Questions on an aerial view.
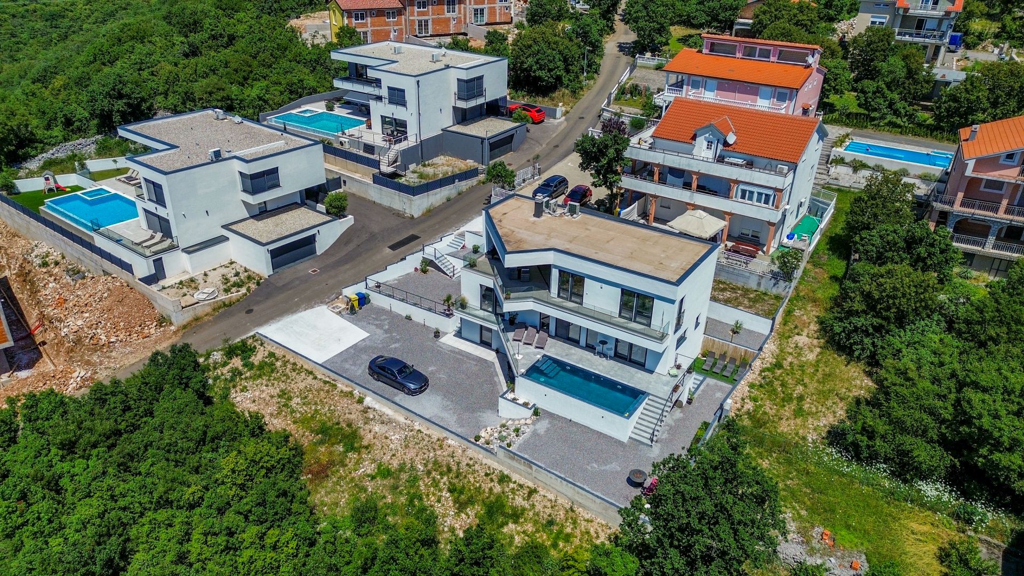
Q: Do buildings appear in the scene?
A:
Yes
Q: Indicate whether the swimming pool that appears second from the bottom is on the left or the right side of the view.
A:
left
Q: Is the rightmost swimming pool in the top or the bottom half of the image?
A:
top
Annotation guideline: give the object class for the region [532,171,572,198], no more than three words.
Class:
car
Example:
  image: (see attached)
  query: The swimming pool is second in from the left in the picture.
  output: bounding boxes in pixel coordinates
[264,107,367,144]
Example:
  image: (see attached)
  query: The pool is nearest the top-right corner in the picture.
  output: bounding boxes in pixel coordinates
[820,135,952,183]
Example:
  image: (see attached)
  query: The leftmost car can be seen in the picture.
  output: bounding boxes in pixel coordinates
[368,357,431,396]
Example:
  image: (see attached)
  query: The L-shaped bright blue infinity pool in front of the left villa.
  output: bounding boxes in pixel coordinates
[41,186,140,244]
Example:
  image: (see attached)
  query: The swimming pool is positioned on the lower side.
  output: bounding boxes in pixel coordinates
[518,354,650,442]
